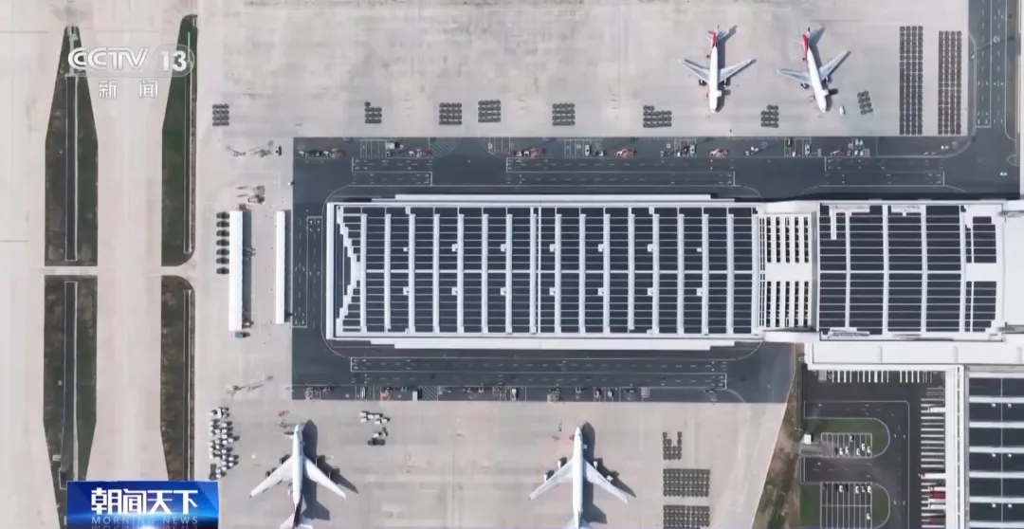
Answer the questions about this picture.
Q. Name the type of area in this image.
airport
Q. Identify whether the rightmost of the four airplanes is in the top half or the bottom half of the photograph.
top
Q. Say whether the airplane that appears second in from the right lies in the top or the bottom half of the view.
top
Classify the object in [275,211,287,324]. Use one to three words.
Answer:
shed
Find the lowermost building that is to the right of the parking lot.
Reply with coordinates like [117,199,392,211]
[937,366,1024,529]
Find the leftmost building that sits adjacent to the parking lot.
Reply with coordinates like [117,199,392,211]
[327,195,765,349]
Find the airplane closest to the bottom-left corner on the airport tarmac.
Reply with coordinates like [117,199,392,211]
[248,423,345,529]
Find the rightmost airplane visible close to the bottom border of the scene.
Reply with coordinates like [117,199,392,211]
[530,425,627,529]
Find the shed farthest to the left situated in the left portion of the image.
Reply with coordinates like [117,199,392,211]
[229,210,246,330]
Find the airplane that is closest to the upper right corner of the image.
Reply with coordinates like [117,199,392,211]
[778,29,848,112]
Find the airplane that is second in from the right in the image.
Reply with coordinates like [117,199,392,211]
[679,27,750,112]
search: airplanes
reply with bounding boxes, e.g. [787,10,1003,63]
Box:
[530,425,627,529]
[679,27,750,112]
[248,423,345,529]
[778,29,848,112]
